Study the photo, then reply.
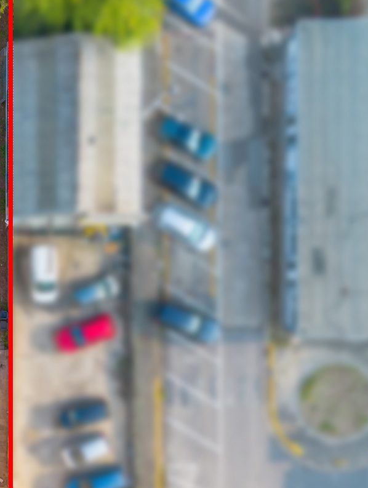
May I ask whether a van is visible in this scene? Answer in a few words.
Yes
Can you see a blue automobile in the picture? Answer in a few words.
Yes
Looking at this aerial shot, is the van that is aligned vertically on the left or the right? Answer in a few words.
left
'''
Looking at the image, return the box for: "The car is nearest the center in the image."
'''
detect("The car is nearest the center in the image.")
[152,200,220,255]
